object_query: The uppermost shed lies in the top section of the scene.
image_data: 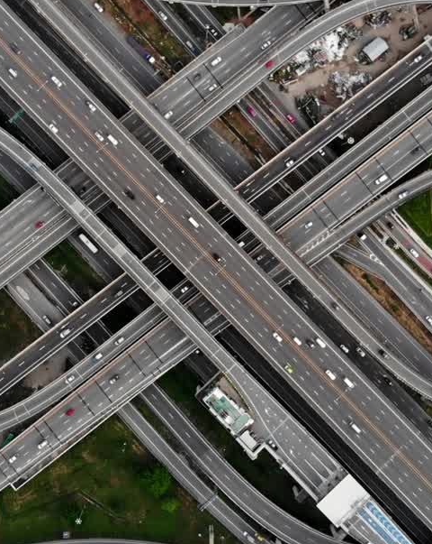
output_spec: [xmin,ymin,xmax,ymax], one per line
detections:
[362,36,388,62]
